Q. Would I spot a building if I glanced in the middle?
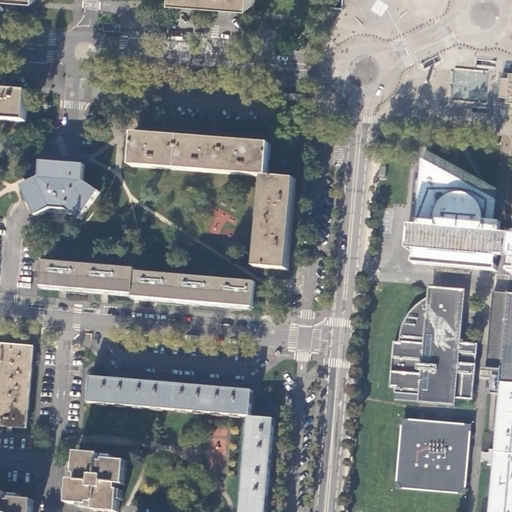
Yes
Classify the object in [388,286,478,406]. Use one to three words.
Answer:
building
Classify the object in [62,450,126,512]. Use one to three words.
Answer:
building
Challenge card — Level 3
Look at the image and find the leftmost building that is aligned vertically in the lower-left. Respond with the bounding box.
[0,342,37,430]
